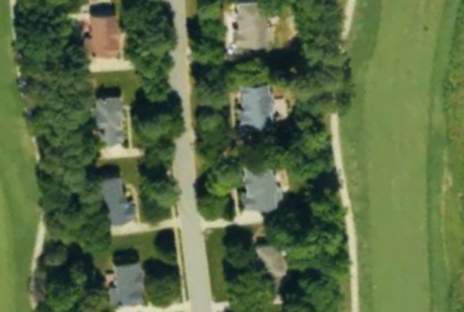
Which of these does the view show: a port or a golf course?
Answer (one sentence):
This looks like a golf course.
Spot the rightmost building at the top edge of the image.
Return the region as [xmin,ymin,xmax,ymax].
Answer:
[230,3,274,54]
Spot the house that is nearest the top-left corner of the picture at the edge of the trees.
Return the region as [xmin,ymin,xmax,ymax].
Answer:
[80,16,120,62]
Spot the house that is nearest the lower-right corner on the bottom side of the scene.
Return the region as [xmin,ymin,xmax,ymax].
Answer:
[250,242,291,288]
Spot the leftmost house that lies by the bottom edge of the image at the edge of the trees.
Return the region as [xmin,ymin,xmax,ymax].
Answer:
[106,263,142,312]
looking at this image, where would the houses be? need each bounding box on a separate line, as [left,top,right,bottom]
[106,263,142,312]
[238,166,283,214]
[99,176,136,229]
[80,16,120,62]
[250,242,291,288]
[93,100,123,150]
[237,85,272,132]
[230,3,274,54]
